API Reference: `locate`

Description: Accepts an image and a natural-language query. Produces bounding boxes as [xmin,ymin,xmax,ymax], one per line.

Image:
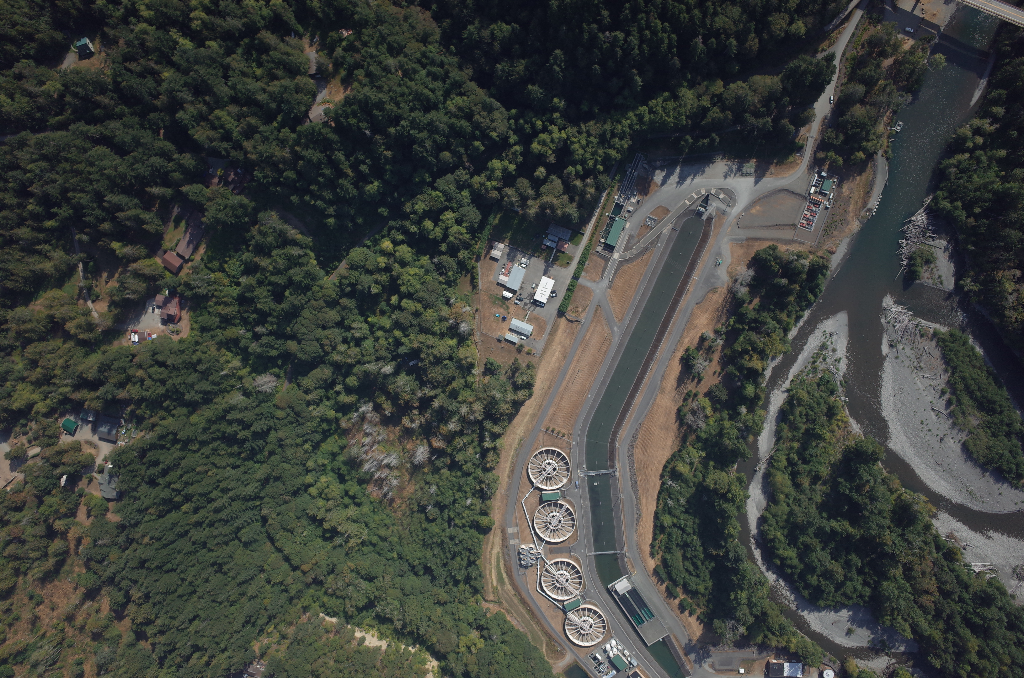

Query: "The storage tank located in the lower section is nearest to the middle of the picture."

[528,447,570,489]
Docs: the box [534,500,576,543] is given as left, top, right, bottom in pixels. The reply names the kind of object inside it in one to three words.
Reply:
storage tank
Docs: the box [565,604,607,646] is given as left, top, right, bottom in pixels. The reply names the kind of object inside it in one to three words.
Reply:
storage tank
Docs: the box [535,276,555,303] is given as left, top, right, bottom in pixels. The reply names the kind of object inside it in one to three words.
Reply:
building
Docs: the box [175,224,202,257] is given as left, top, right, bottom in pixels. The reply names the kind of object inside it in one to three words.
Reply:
house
